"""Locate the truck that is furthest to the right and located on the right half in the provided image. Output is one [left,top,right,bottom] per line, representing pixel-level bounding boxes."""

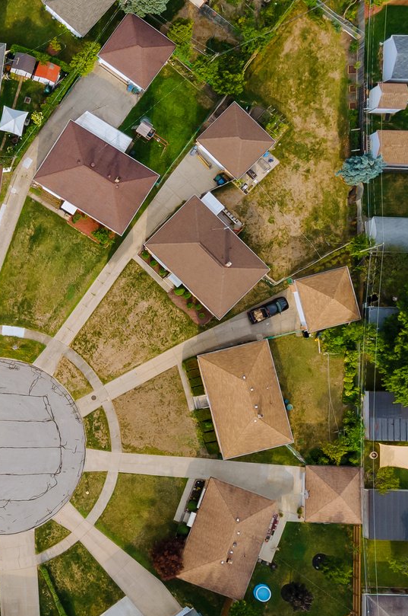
[248,296,292,324]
